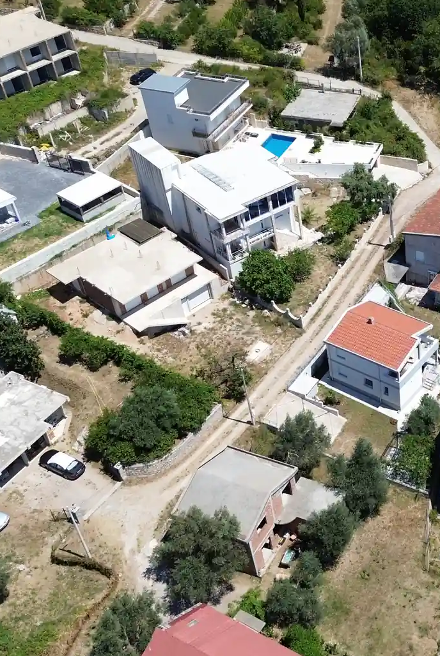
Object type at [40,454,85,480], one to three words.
car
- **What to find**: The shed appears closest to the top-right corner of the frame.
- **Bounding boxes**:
[281,90,370,135]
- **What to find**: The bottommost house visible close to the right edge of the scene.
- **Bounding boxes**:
[326,304,440,411]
